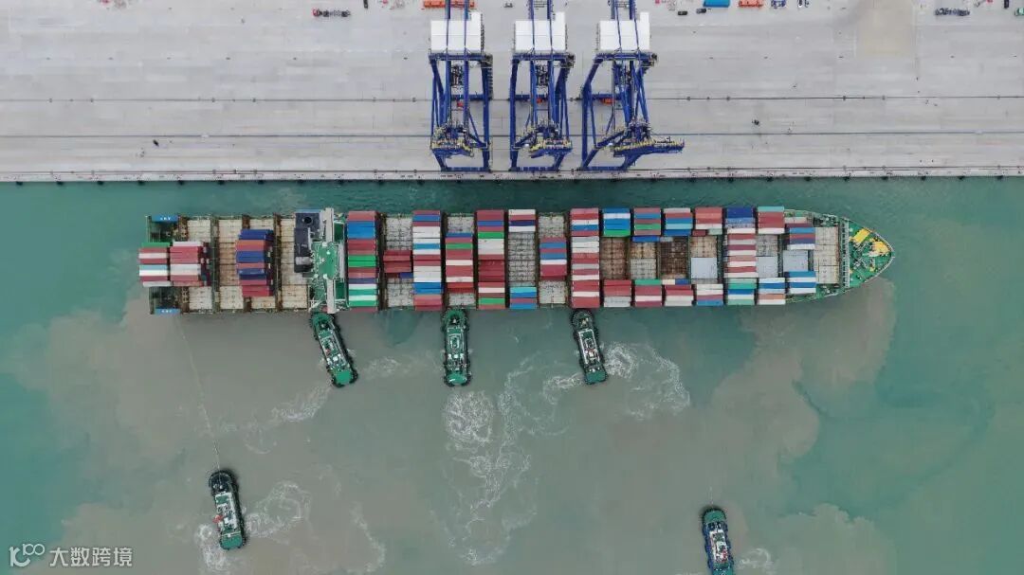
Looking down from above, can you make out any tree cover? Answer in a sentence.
No, no tree cover is visible.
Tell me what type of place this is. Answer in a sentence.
The area seen from above is a port.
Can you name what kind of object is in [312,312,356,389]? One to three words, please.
boat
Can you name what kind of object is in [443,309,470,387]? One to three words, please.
boat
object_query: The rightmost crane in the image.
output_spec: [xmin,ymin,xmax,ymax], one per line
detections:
[573,0,685,171]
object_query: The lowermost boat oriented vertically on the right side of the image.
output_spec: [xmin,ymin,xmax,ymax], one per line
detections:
[701,507,736,575]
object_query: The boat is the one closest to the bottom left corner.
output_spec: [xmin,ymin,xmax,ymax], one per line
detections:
[209,472,245,550]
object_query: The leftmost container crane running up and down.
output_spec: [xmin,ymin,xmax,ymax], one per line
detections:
[426,0,496,171]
